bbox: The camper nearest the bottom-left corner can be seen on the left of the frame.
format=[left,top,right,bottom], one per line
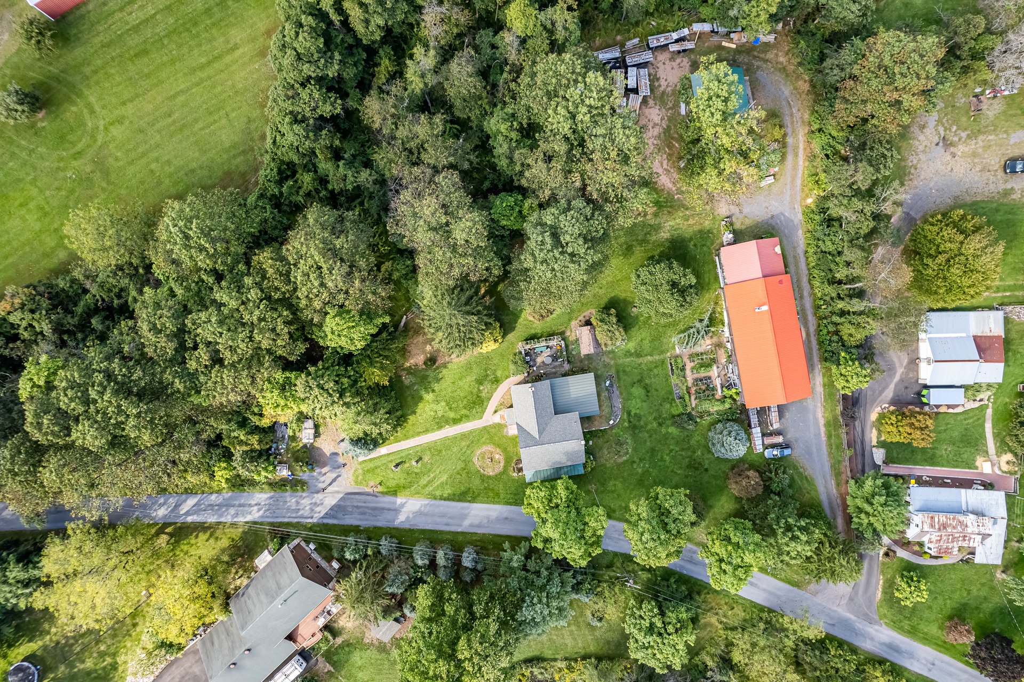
[269,650,310,682]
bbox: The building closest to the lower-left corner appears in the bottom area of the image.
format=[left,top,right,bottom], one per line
[198,543,334,682]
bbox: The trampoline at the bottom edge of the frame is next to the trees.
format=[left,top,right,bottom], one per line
[8,661,41,682]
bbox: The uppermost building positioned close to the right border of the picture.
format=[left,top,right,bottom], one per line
[917,311,1004,385]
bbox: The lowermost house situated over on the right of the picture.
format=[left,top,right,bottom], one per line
[902,486,1007,565]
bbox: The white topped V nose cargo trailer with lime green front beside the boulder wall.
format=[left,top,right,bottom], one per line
[910,388,964,405]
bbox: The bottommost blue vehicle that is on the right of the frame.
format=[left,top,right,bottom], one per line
[766,448,793,460]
